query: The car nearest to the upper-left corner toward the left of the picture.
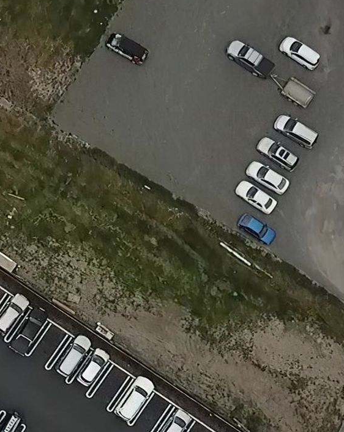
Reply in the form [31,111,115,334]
[103,34,151,68]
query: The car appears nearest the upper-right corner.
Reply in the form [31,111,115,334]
[275,38,322,73]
